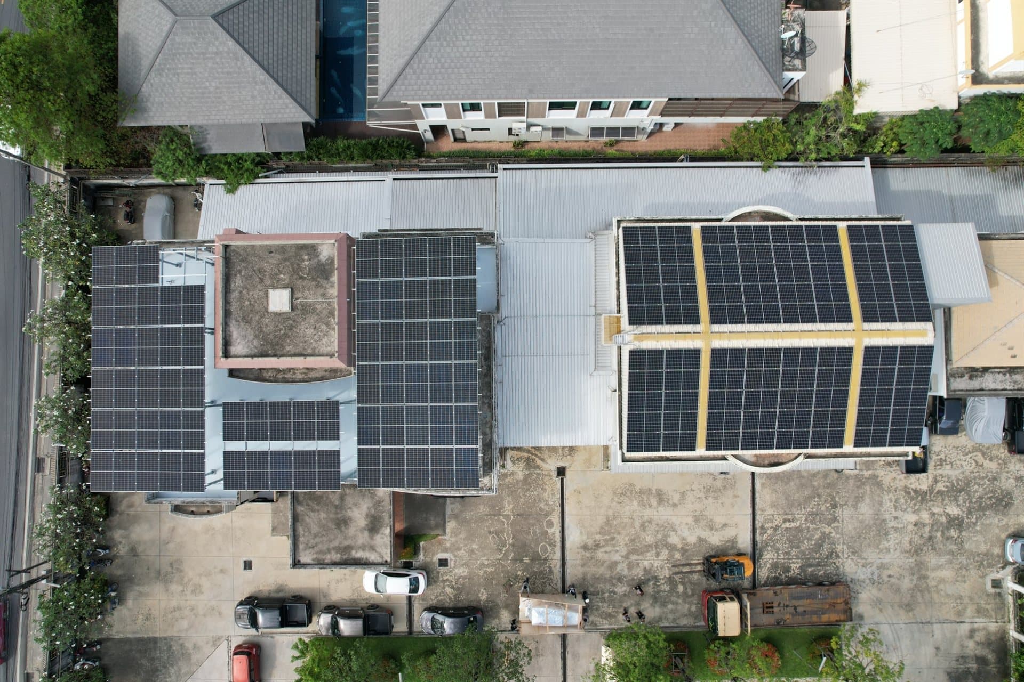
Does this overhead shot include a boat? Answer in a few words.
No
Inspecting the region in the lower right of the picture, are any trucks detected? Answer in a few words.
Yes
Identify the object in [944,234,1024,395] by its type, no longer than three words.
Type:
building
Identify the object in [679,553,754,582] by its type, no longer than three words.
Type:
work vehicle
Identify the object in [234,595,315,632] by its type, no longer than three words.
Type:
truck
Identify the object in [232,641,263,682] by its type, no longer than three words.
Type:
car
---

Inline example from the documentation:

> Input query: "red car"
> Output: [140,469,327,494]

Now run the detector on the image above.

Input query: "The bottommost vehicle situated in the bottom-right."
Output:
[697,580,856,641]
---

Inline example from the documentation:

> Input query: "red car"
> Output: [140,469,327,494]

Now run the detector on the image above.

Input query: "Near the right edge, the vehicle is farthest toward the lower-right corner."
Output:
[1000,535,1024,565]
